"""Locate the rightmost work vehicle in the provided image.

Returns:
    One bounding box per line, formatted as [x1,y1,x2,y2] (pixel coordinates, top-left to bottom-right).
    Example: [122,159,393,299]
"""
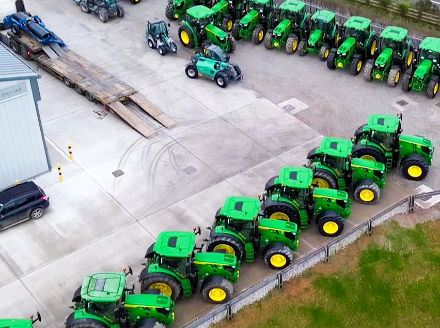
[403,38,440,100]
